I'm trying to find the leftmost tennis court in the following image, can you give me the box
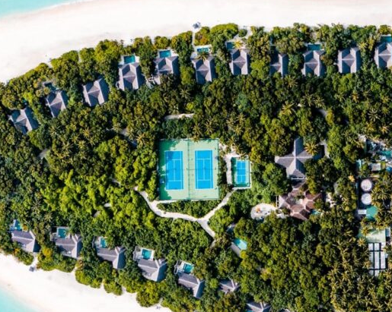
[159,139,220,199]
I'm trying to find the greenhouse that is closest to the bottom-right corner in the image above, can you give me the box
[367,243,386,276]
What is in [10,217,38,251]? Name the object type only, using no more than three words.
house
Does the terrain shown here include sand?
Yes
